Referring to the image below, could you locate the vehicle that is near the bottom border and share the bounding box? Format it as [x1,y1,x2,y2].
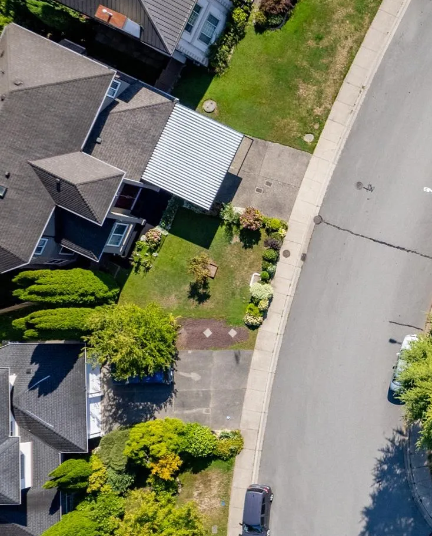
[240,481,276,536]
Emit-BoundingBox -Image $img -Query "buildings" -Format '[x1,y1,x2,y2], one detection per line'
[0,342,108,536]
[0,22,182,267]
[56,0,256,72]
